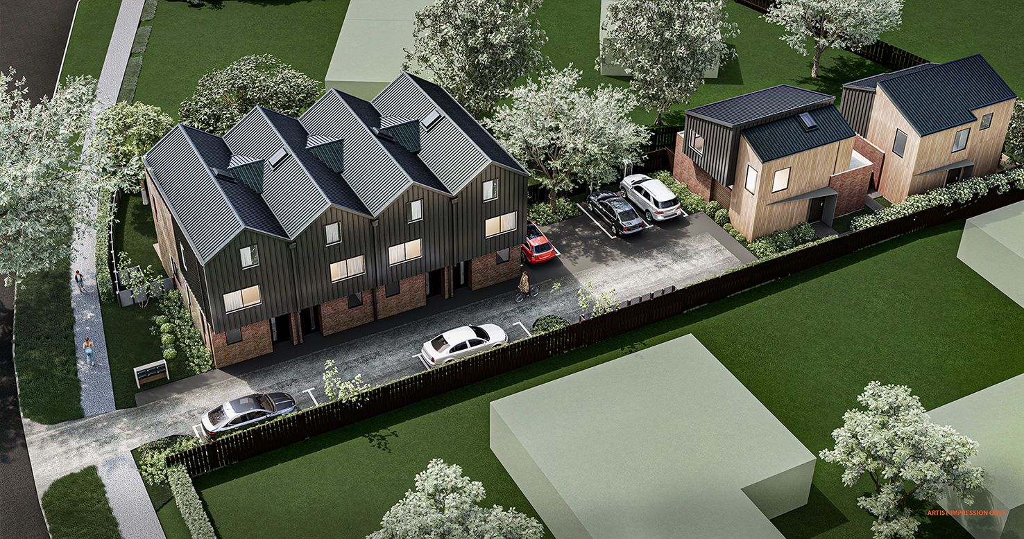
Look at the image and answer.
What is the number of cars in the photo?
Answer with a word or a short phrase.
5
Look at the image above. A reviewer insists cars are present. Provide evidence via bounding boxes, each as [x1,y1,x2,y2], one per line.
[620,174,679,220]
[201,390,295,439]
[520,218,557,261]
[588,190,643,235]
[420,324,505,368]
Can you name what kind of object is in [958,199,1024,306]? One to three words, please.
building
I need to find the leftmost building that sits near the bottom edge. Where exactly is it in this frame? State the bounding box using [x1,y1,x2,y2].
[490,335,817,539]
